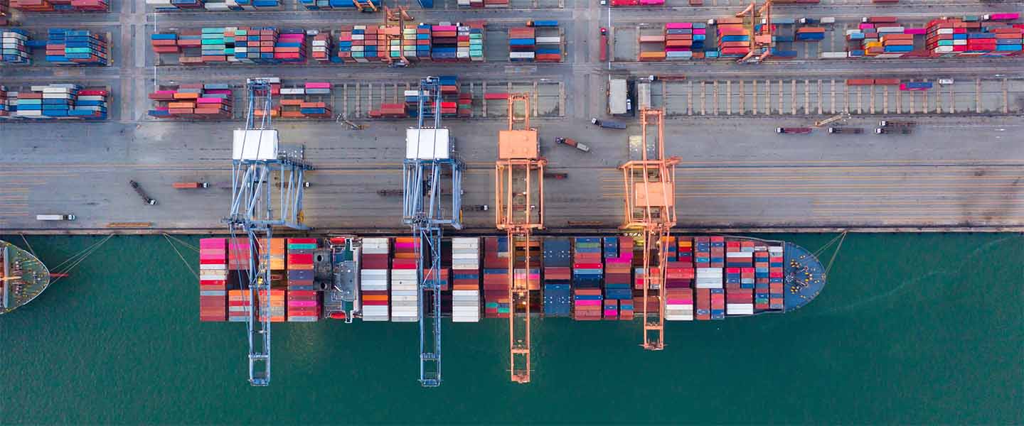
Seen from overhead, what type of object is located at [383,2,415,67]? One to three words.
crane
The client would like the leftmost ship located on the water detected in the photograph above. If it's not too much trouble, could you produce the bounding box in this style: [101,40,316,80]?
[0,240,71,314]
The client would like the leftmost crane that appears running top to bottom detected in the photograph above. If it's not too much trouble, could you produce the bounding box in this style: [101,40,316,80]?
[224,78,321,387]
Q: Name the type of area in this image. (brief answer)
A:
port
